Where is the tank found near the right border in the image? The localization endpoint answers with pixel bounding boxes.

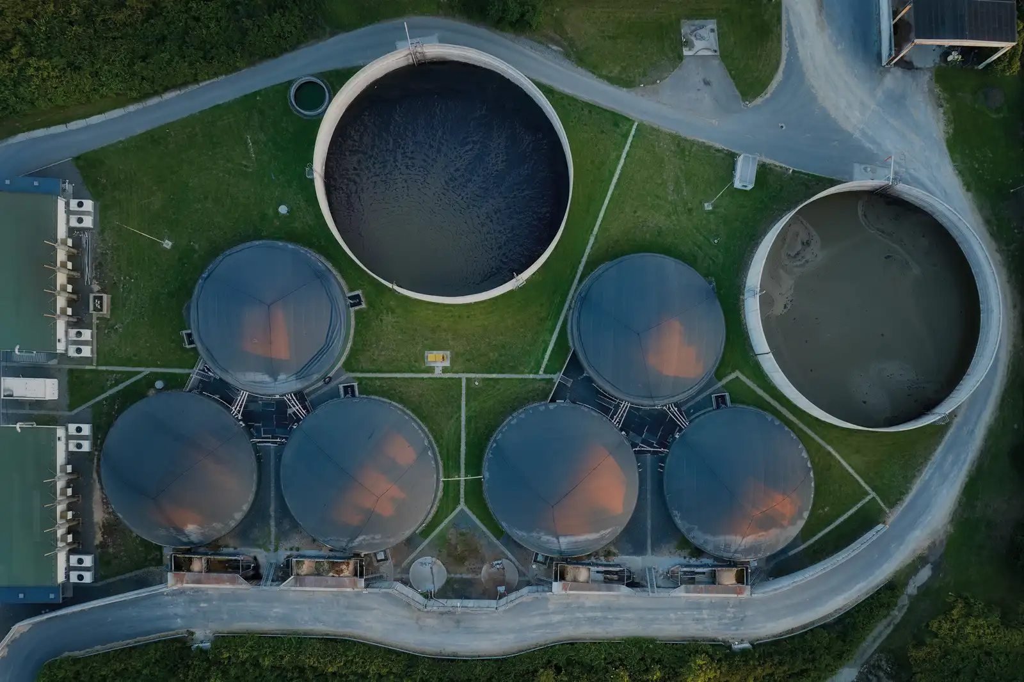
[743,182,1004,429]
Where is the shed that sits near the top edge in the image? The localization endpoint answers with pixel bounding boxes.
[880,0,1023,66]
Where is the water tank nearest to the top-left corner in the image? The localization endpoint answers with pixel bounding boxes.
[292,79,333,120]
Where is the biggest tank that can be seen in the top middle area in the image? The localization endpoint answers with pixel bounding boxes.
[313,44,572,304]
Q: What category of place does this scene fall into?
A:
industrial area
